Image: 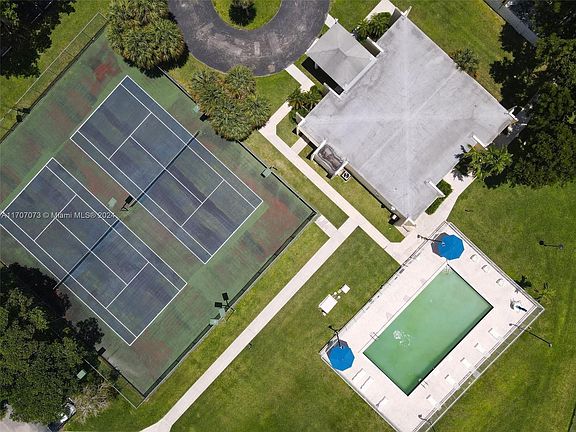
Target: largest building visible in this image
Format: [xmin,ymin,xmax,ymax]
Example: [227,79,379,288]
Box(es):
[295,6,519,227]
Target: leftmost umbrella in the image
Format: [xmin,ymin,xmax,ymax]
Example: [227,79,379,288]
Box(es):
[327,341,354,369]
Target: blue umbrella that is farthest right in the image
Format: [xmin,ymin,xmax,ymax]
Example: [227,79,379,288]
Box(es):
[437,233,464,260]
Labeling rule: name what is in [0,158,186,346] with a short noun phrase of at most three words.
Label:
tennis court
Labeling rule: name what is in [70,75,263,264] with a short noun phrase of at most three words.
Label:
tennis court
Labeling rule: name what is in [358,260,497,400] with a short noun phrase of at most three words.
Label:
swimming pool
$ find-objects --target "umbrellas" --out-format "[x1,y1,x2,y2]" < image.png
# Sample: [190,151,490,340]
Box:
[437,233,464,260]
[327,341,354,369]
